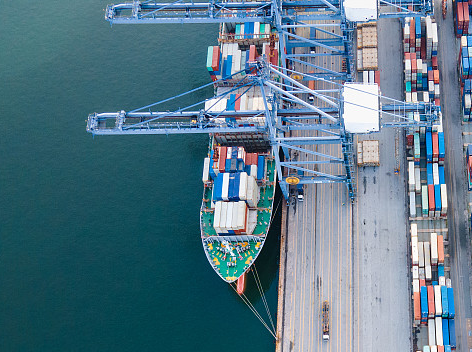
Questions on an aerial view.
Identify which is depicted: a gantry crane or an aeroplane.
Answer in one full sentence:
I can see a gantry crane in this picture.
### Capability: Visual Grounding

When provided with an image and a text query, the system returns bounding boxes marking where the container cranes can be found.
[105,0,425,101]
[84,62,431,204]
